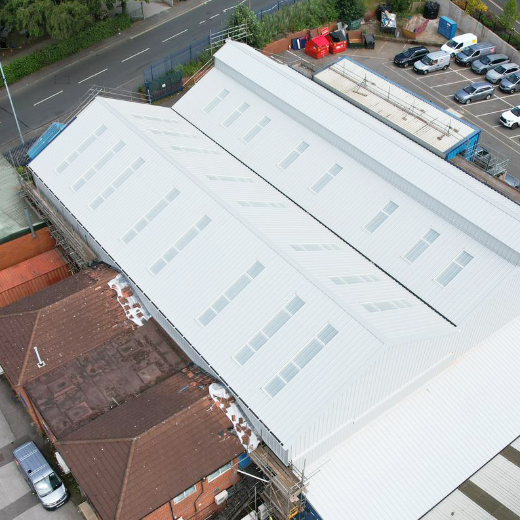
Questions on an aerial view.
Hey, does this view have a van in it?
Yes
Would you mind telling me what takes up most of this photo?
buildings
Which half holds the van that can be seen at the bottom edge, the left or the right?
left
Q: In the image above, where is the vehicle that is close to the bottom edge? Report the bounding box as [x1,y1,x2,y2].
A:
[8,431,72,519]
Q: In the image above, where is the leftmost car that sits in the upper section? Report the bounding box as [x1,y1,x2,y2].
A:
[391,38,433,67]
